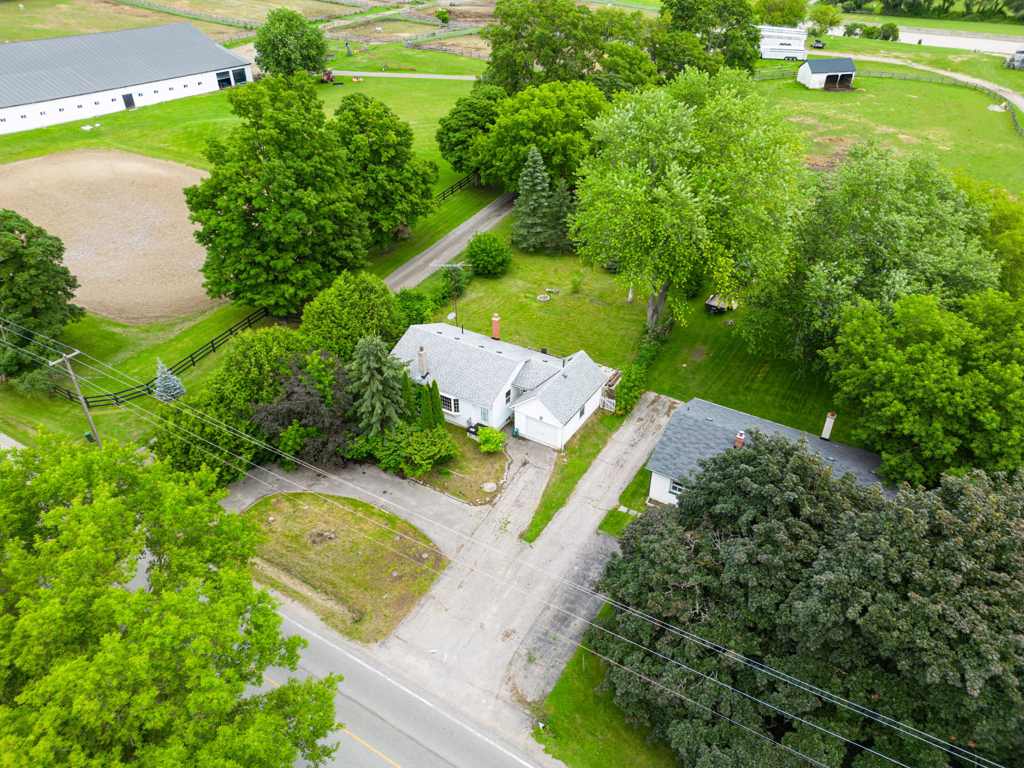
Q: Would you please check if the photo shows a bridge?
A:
No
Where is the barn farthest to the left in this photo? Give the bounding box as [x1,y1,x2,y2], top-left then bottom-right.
[0,20,258,133]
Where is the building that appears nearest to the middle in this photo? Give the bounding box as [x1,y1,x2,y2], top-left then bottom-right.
[381,308,609,454]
